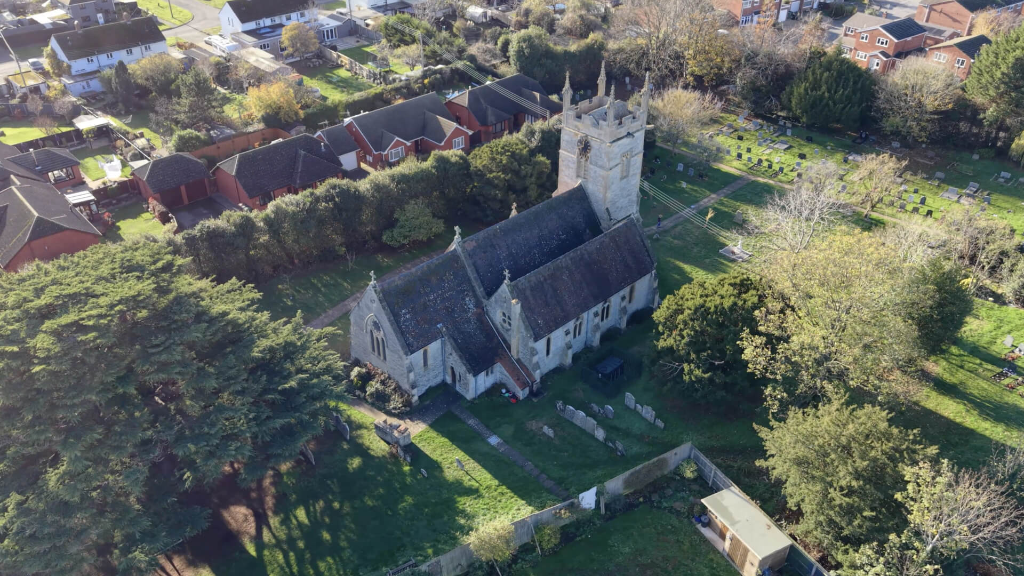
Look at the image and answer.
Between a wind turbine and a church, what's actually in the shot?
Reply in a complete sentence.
There is a church in the scene.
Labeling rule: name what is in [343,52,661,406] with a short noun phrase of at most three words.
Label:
church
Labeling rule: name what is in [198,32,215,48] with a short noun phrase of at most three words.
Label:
car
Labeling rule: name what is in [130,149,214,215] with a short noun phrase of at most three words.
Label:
building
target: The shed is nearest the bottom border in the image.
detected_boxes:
[700,484,797,576]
